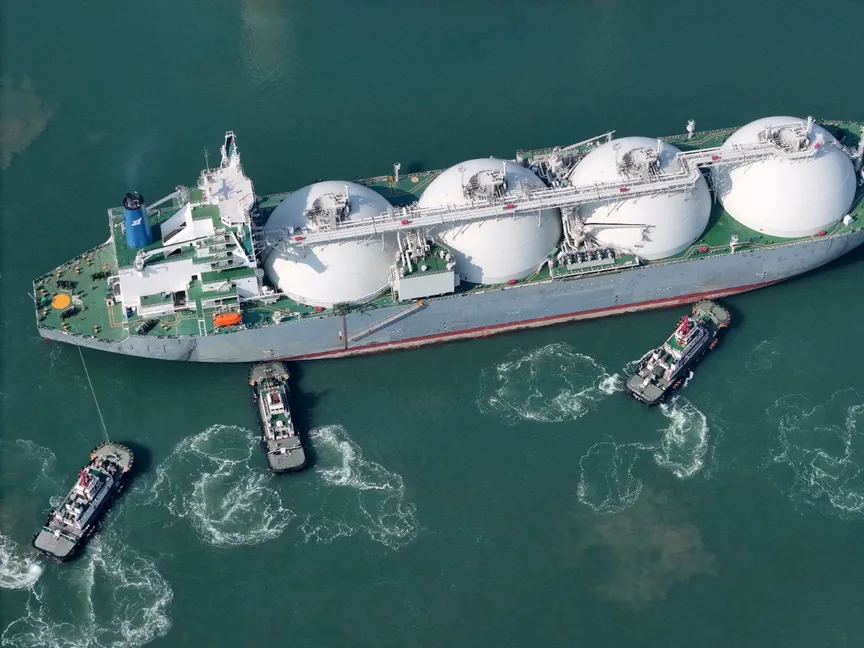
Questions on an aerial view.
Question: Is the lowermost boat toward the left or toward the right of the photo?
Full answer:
The lowermost boat is on the left side of the image.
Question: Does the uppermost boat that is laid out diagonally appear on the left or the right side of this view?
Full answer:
The uppermost boat that is laid out diagonally sits on the right side.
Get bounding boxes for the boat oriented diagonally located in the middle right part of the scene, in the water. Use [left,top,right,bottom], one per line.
[629,300,730,410]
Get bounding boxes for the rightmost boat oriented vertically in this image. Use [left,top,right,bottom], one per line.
[251,358,305,482]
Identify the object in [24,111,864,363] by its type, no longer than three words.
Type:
ship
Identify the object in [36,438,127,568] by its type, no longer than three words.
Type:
boat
